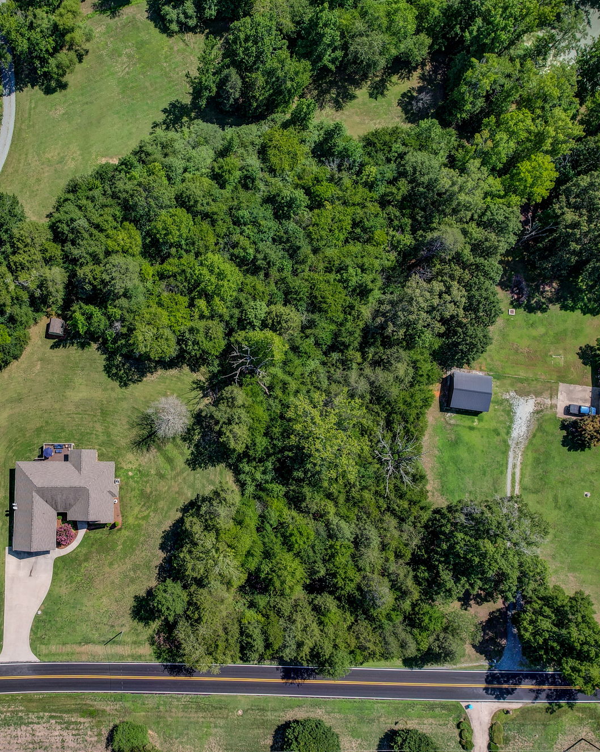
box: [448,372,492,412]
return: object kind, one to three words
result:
barn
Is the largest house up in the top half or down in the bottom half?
bottom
